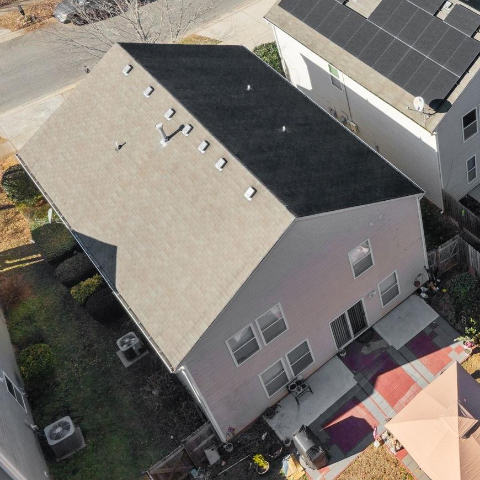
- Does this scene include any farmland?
No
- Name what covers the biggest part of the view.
buildings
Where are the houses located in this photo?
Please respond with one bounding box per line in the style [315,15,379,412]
[19,43,434,447]
[0,318,47,480]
